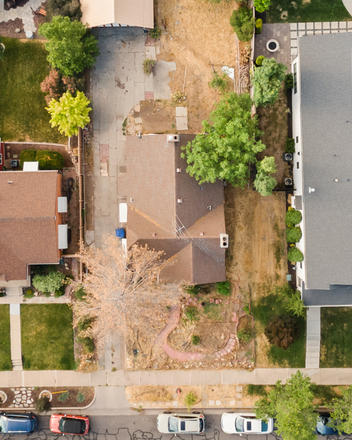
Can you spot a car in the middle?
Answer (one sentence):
No, the scene shows no car in the middle.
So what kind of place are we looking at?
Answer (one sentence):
This looks like a residential area.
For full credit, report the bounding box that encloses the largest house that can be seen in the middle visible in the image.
[118,134,228,284]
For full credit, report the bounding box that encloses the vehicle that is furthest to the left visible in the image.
[0,409,39,436]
